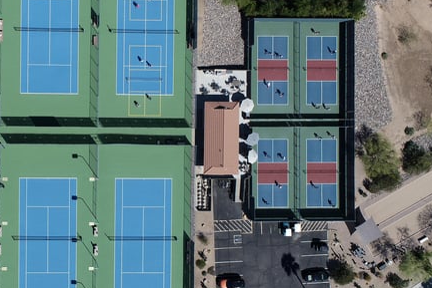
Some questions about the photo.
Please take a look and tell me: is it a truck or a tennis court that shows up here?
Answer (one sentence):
It is a tennis court that can be seen here.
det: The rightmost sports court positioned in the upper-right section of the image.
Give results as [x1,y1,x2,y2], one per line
[292,22,346,119]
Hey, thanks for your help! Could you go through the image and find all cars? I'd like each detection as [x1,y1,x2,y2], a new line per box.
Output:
[302,268,327,281]
[218,277,243,288]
